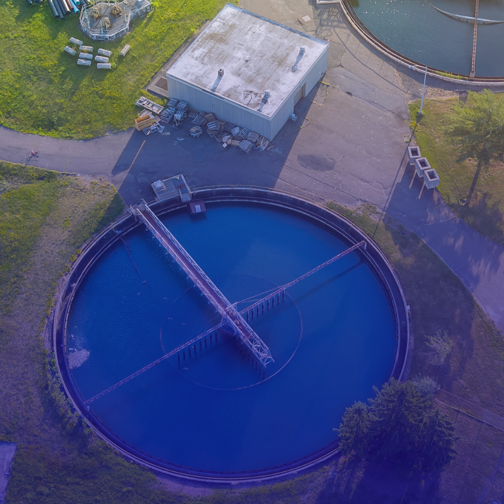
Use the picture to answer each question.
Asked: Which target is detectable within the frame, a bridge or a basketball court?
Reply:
bridge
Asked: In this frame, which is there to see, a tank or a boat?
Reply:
tank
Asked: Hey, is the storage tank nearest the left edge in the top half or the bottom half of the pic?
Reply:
bottom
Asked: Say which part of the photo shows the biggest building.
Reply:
top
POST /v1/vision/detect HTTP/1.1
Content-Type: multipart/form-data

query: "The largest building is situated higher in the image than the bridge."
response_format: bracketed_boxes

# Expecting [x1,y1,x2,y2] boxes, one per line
[164,8,330,140]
